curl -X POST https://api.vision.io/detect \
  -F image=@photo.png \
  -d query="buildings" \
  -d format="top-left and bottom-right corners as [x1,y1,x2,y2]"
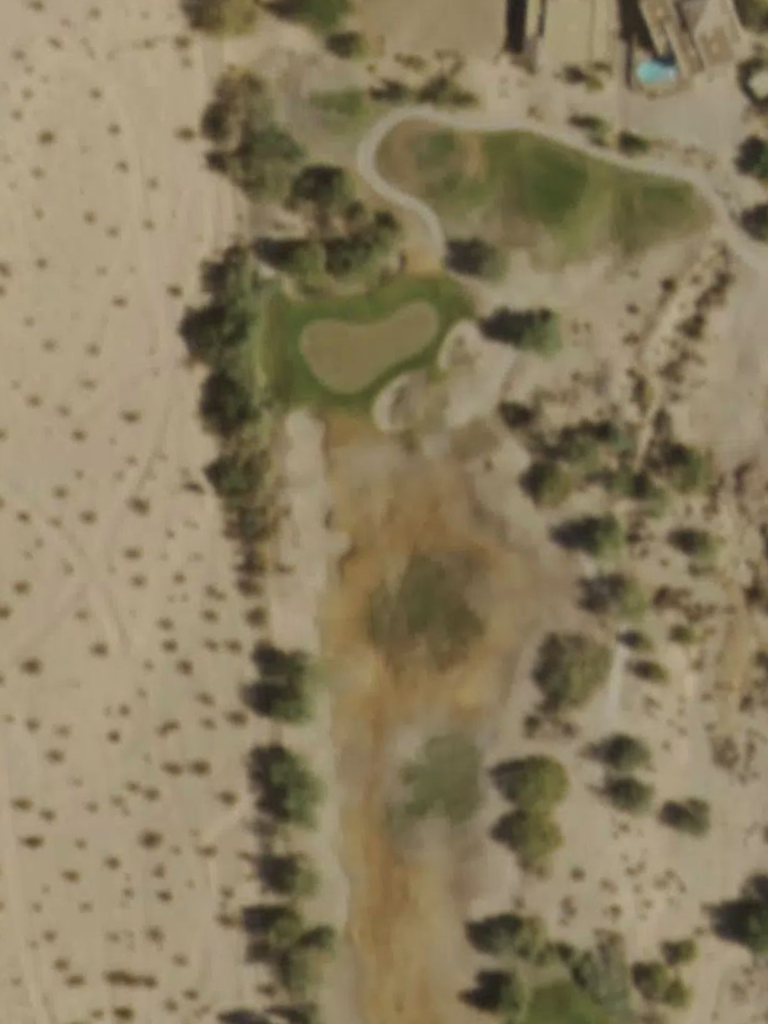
[642,0,743,78]
[526,0,610,61]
